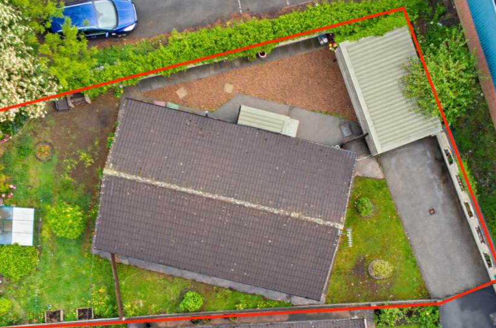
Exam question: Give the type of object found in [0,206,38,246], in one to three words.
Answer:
greenhouse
